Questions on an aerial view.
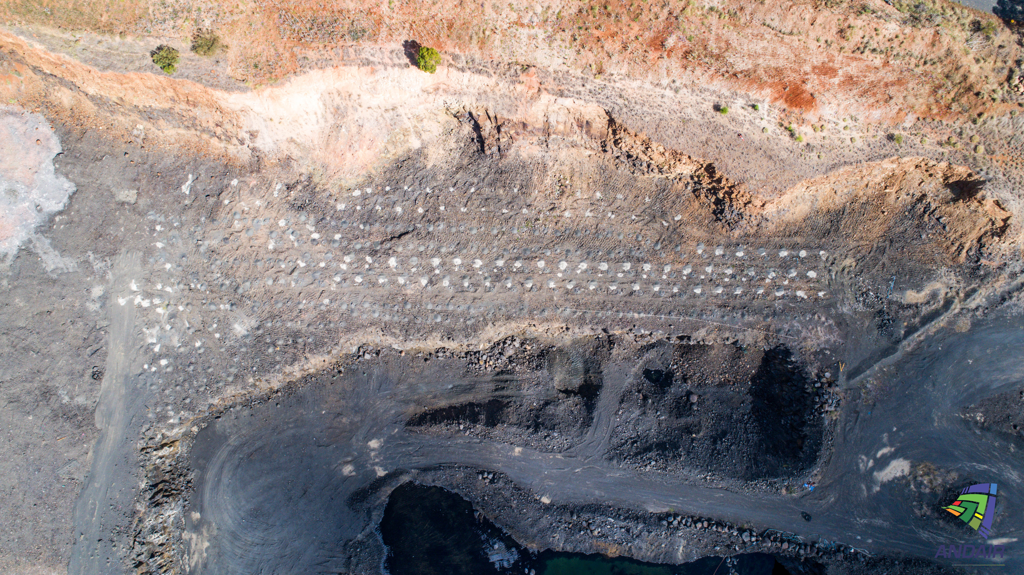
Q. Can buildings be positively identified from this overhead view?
No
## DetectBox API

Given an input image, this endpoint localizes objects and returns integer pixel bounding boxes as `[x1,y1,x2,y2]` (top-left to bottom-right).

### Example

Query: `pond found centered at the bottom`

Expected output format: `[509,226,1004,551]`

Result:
[378,481,789,575]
